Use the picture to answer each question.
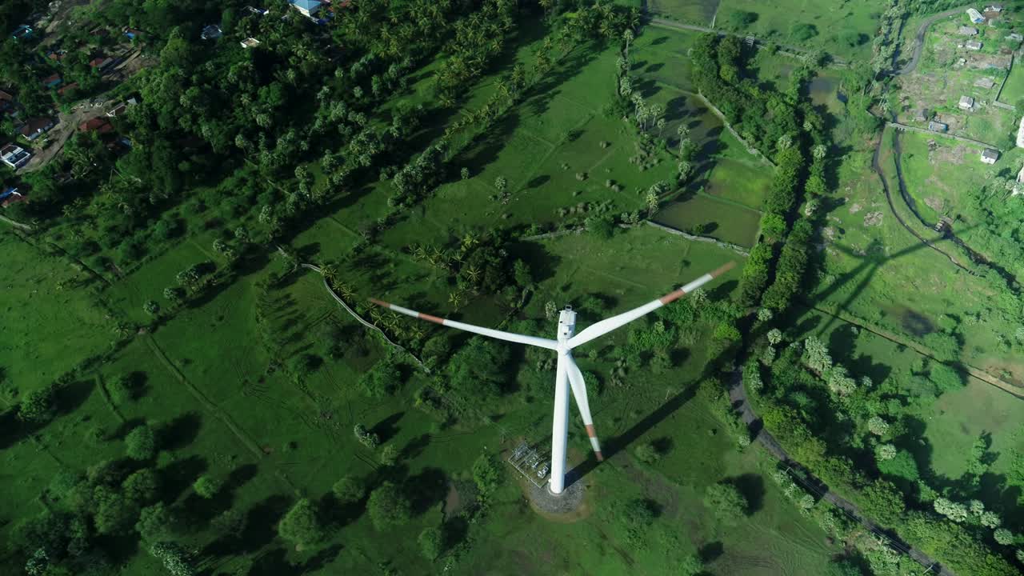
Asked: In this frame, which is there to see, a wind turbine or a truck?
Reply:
wind turbine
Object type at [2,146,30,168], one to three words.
house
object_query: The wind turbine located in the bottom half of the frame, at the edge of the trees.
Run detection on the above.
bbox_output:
[369,267,735,500]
